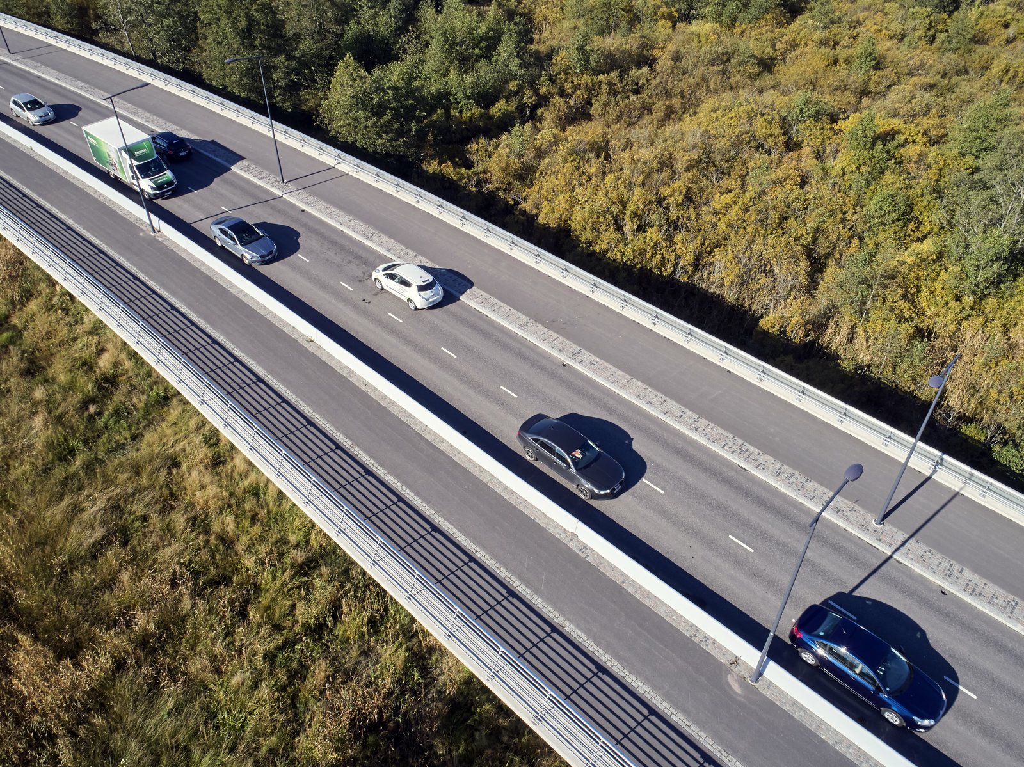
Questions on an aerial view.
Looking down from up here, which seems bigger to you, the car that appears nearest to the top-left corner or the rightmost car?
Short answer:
the rightmost car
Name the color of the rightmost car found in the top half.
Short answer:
white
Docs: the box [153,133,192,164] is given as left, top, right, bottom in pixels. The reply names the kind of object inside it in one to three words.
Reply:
car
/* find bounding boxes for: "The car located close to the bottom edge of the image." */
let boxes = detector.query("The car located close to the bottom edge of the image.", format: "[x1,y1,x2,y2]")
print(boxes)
[791,603,945,730]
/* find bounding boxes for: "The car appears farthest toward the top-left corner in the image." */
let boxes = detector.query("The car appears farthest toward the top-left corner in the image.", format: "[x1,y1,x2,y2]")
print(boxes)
[9,92,55,126]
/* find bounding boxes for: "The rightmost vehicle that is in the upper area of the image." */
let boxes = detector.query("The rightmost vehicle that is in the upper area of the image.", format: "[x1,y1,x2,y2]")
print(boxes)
[374,262,442,310]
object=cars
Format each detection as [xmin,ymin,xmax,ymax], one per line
[518,413,623,500]
[210,216,278,265]
[153,133,192,164]
[791,603,945,730]
[9,92,55,126]
[374,262,442,310]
